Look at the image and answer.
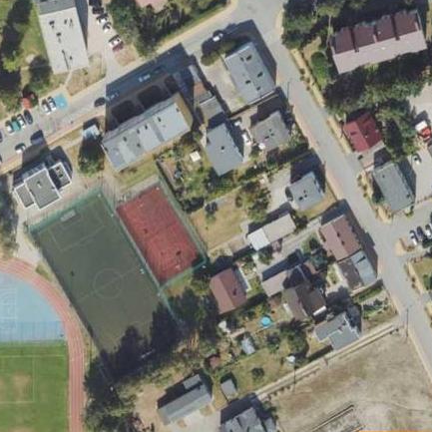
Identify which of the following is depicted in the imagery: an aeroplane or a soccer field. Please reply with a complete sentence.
Looking from above, you can make out a soccer field.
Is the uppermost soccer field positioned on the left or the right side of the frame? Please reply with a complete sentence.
It is on the left.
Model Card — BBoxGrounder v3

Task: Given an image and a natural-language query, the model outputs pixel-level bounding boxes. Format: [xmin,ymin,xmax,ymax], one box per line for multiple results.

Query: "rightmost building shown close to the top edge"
[331,6,427,73]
